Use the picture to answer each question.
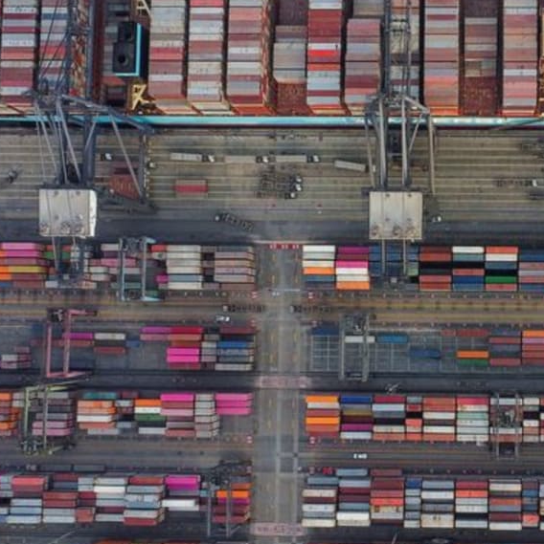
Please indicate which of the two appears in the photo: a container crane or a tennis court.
container crane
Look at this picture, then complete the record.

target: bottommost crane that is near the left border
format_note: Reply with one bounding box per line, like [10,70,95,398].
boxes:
[22,382,77,454]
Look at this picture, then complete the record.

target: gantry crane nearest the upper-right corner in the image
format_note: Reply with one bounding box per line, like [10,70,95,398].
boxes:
[359,0,443,283]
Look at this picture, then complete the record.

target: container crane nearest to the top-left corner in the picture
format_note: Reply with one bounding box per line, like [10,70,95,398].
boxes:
[33,0,157,279]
